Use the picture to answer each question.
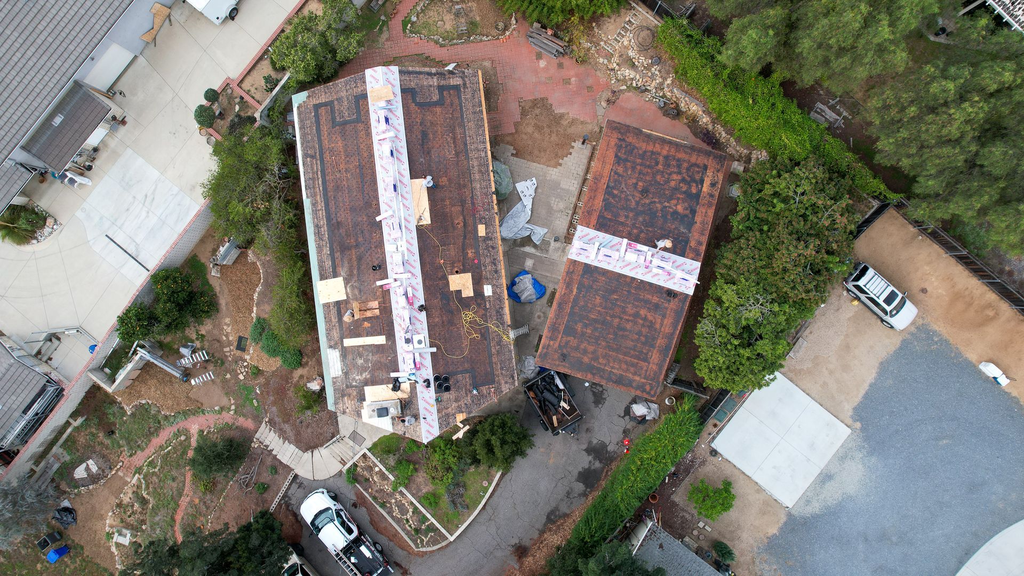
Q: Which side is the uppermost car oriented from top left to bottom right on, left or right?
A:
right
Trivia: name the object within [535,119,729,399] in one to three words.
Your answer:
building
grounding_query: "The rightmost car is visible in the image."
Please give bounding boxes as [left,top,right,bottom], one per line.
[843,265,919,332]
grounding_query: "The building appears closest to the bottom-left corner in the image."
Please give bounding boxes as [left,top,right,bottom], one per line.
[0,339,68,439]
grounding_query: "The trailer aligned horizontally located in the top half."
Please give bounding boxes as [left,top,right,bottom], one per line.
[185,0,247,26]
